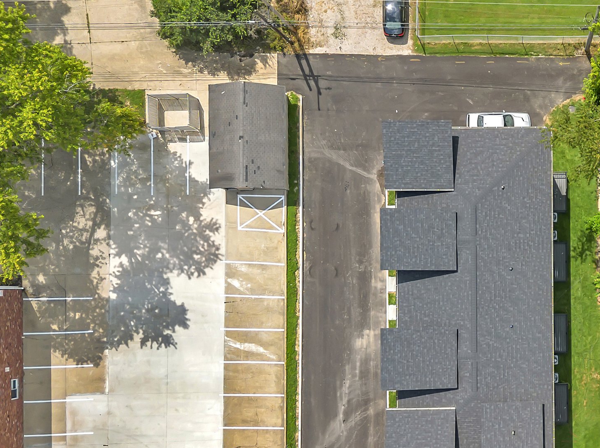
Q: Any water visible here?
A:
No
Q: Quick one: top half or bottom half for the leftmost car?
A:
top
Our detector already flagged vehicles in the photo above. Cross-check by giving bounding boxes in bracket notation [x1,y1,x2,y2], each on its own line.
[468,108,531,126]
[383,0,407,39]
